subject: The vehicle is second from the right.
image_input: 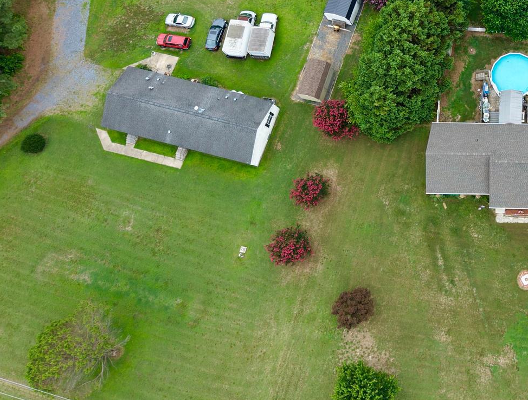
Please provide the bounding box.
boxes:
[224,11,257,63]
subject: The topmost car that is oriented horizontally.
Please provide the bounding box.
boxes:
[164,12,198,30]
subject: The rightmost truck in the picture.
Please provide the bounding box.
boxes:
[249,13,280,64]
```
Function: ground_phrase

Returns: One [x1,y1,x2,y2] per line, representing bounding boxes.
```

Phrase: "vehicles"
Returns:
[164,12,198,30]
[249,13,280,64]
[206,18,229,52]
[224,11,257,63]
[156,33,193,52]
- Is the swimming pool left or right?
right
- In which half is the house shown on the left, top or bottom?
top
